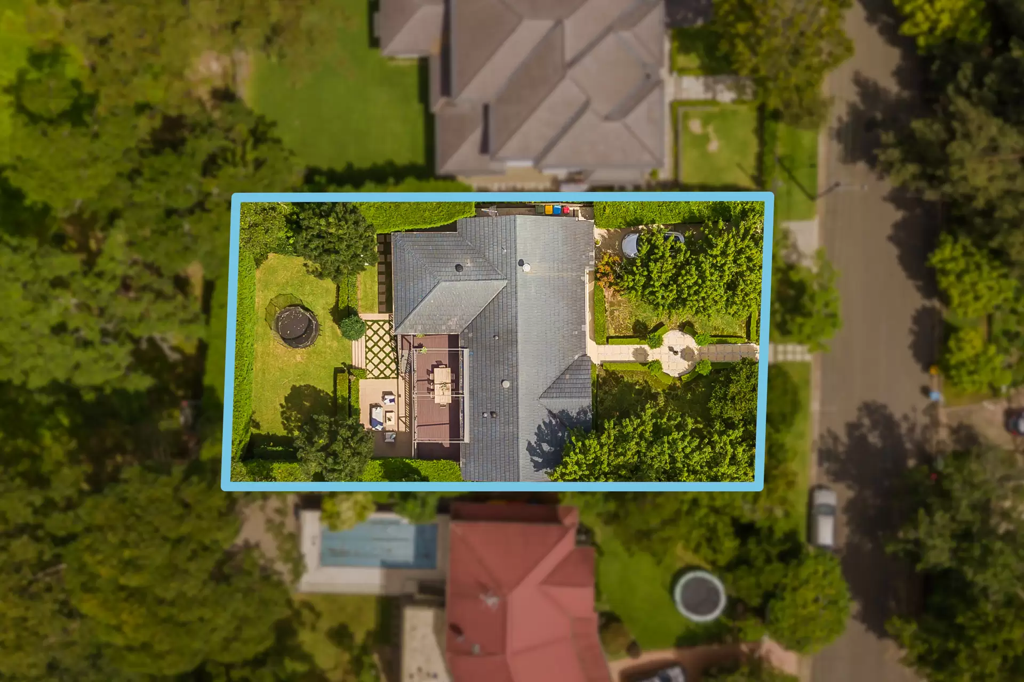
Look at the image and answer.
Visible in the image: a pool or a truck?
pool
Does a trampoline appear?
Yes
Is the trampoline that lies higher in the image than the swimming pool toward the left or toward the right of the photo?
left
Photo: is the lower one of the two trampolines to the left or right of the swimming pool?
to the right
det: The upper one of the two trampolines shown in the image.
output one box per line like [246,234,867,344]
[268,303,325,350]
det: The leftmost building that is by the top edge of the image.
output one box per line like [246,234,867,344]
[379,0,665,185]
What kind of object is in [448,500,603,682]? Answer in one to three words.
house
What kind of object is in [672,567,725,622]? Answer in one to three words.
trampoline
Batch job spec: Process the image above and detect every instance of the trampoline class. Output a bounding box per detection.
[268,303,325,350]
[672,567,725,622]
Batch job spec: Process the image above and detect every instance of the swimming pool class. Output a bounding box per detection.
[300,509,448,592]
